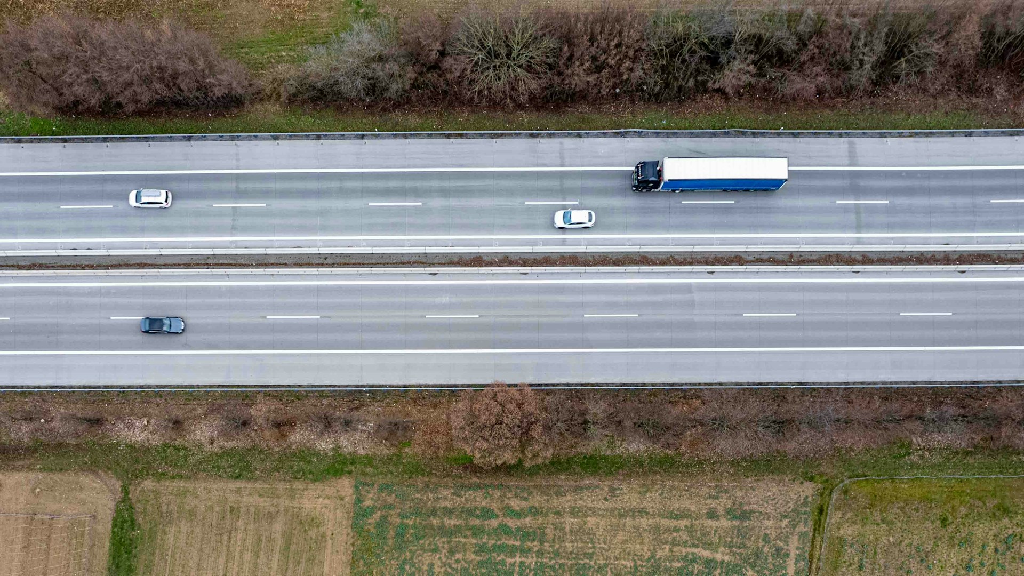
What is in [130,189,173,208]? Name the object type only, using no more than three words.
car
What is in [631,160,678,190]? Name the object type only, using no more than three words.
truck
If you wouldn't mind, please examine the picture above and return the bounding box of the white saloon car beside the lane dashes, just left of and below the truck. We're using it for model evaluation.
[554,210,595,228]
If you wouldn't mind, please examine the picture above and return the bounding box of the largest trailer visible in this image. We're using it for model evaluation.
[658,158,789,190]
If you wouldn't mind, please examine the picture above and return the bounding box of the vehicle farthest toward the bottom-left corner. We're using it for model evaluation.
[140,316,187,334]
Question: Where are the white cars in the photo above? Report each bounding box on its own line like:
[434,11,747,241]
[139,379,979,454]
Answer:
[130,189,173,208]
[554,210,595,228]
